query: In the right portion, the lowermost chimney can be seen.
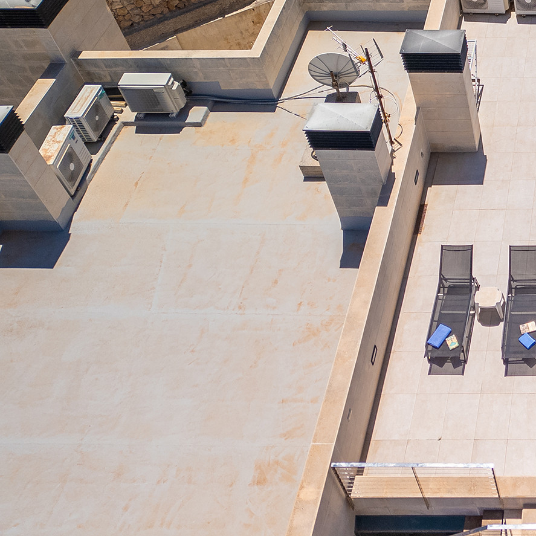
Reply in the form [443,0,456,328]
[299,102,387,229]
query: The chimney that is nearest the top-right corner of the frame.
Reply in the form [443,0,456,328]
[401,27,482,151]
